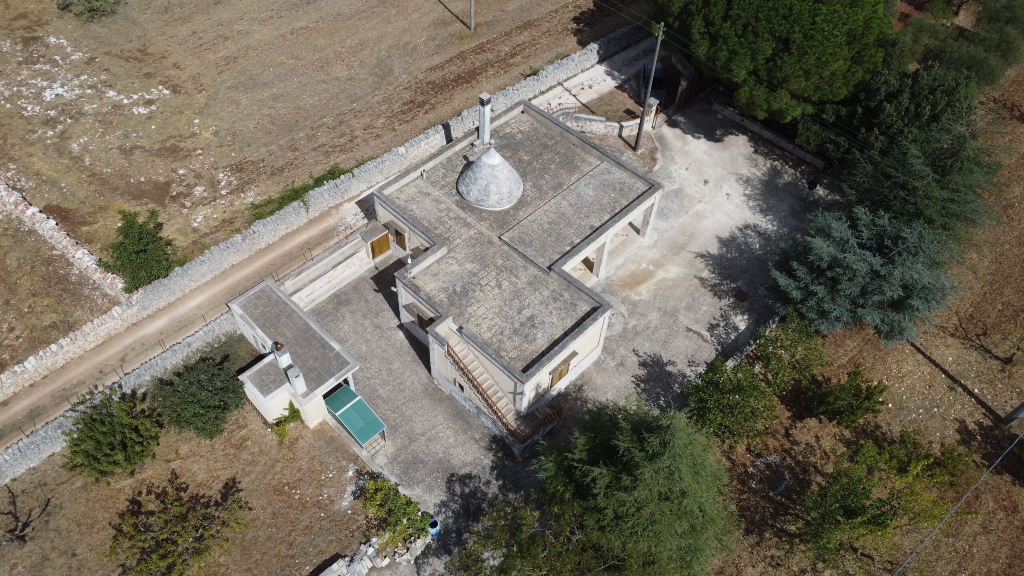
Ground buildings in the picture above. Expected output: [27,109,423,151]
[228,279,358,430]
[374,95,663,457]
